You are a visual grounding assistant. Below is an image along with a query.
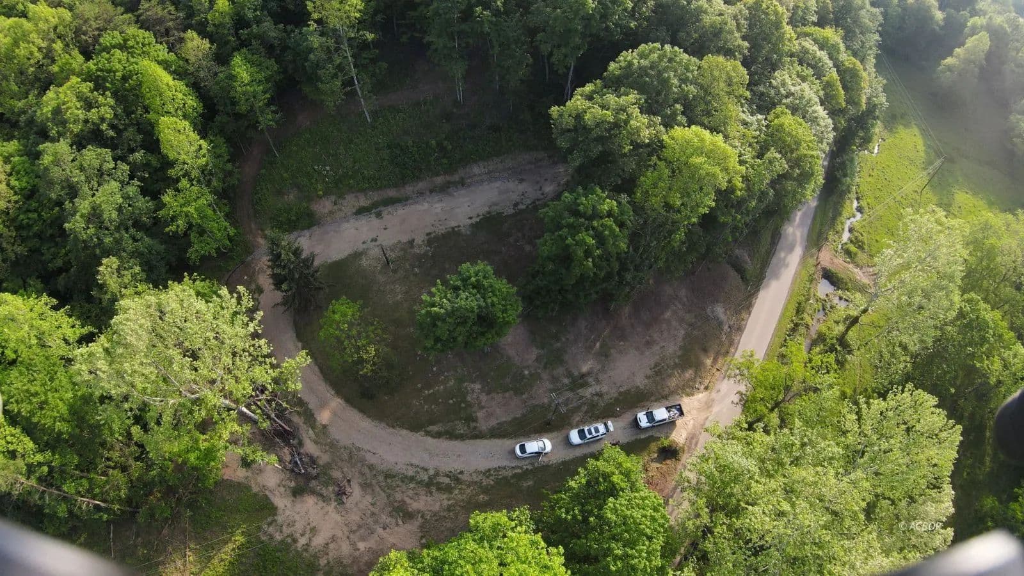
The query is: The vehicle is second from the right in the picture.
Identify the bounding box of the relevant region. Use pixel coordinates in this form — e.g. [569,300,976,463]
[566,418,614,447]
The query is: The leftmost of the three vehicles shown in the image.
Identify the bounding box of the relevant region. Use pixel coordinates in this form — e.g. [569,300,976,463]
[513,436,553,460]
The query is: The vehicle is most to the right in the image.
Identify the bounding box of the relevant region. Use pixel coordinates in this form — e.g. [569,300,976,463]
[633,402,686,430]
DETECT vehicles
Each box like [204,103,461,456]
[566,418,614,447]
[513,436,553,460]
[633,402,686,430]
